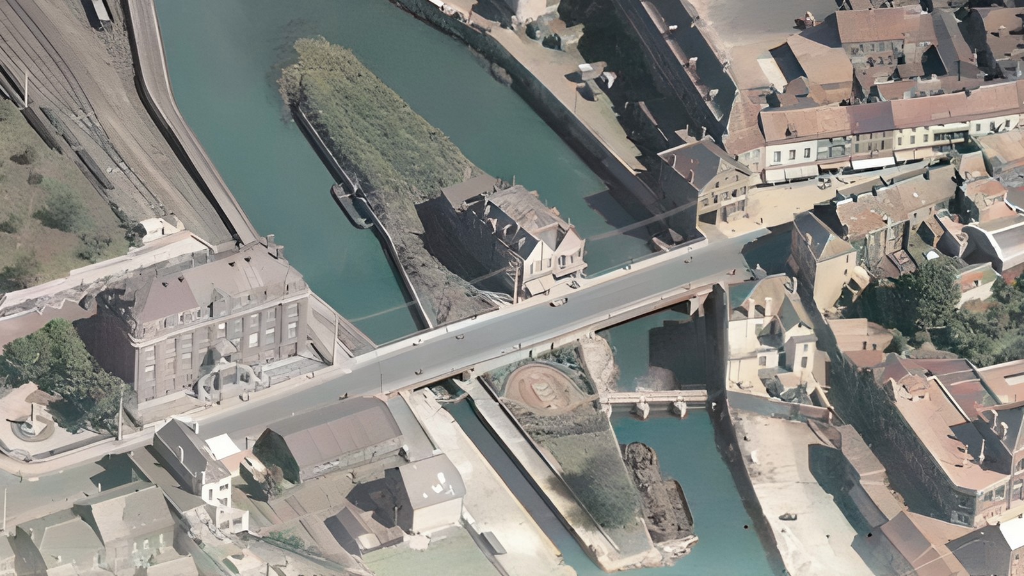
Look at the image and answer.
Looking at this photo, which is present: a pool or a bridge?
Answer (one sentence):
This aerial view contains a bridge.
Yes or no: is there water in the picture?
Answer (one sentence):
Yes, the picture does contain water.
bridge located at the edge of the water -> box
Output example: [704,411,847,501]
[373,234,730,392]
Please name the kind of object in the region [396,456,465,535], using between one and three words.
house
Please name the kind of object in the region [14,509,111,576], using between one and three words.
house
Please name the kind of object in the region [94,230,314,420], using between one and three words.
building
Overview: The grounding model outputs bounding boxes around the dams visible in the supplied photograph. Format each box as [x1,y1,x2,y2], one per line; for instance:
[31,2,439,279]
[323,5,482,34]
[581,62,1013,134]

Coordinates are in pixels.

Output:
[596,389,708,421]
